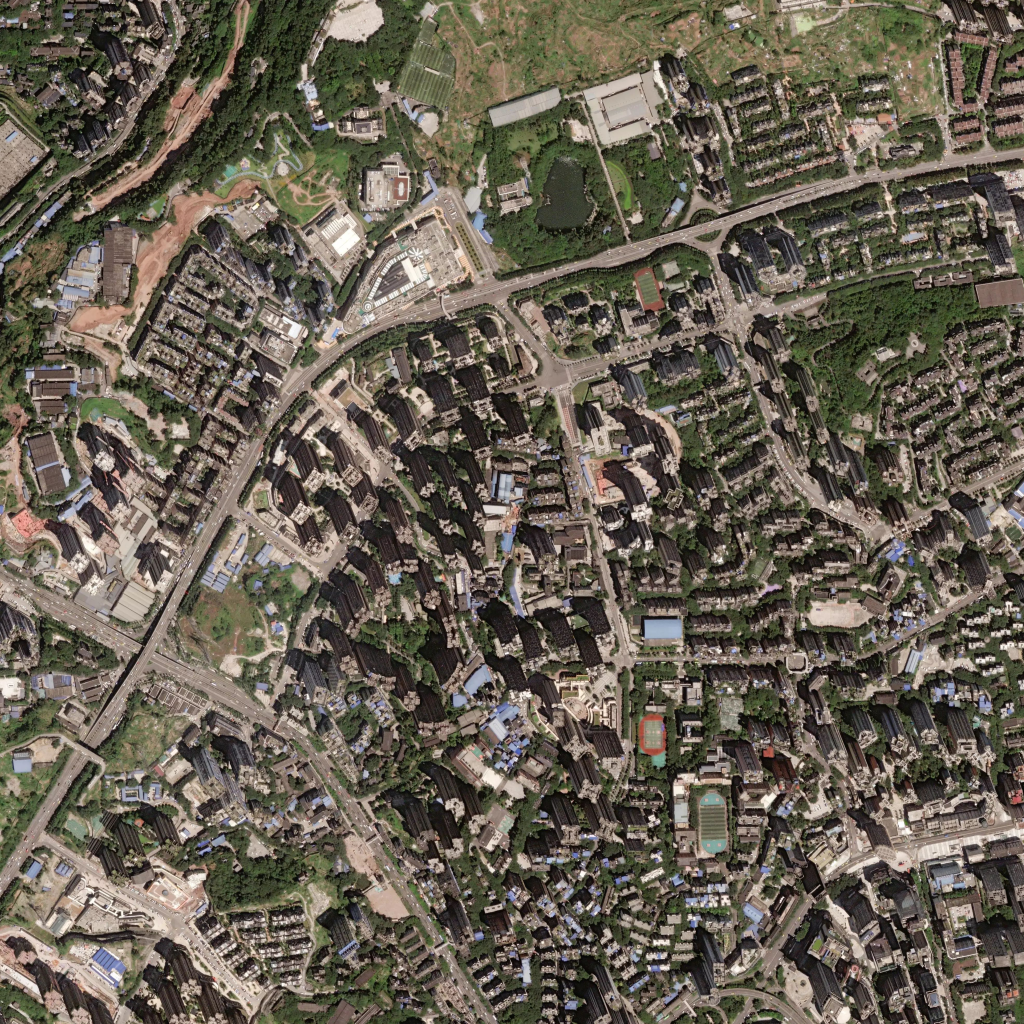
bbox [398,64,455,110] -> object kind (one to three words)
soccer field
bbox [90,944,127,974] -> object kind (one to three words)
shed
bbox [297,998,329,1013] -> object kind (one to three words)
house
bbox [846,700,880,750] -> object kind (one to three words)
building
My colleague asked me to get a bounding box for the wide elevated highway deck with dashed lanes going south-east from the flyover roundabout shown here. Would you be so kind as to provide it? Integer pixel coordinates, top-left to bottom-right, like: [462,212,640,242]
[595,185,814,269]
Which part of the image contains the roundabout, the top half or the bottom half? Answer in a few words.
top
